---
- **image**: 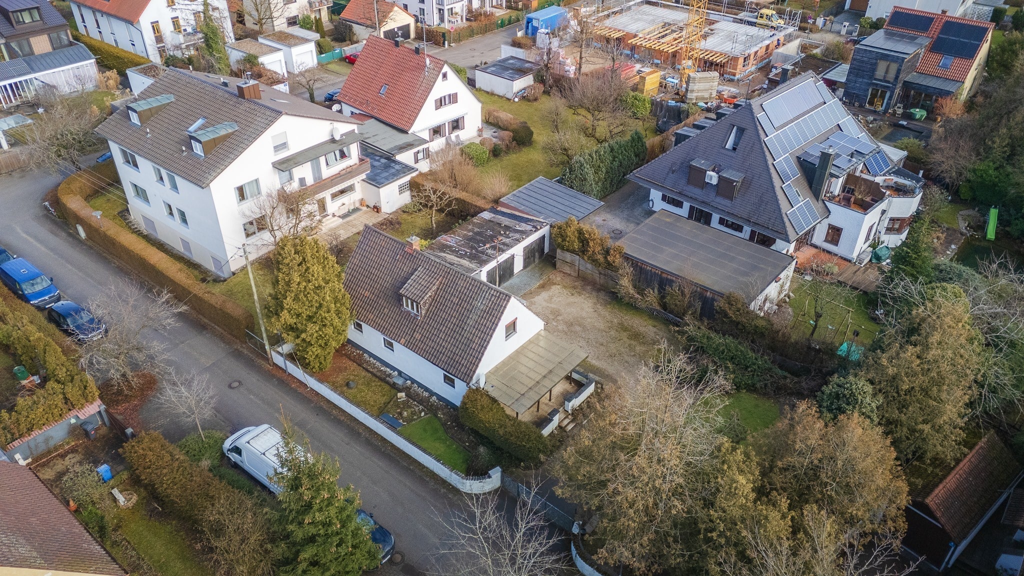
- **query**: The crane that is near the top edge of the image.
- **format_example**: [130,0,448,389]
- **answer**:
[660,0,726,85]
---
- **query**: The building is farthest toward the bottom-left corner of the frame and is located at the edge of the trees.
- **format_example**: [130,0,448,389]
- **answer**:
[0,463,137,576]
